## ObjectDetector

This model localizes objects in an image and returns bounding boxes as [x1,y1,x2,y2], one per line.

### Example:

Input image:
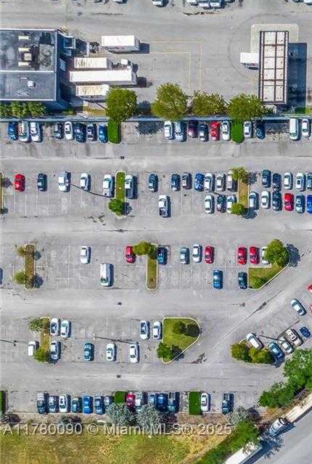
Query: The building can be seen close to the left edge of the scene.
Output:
[0,28,84,112]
